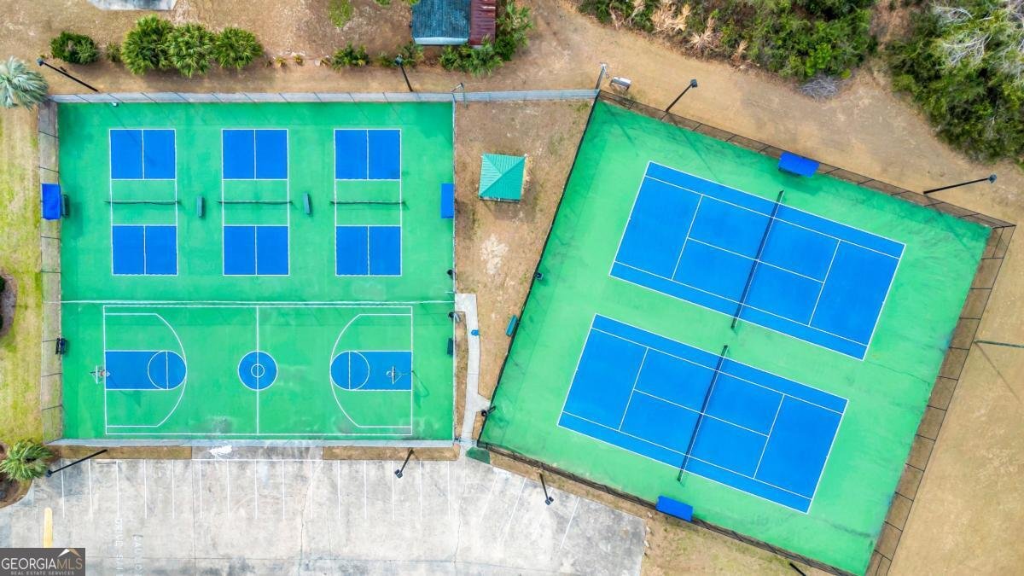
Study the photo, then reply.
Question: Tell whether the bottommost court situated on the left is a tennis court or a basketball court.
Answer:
basketball court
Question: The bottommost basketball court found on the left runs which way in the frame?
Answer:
from left to right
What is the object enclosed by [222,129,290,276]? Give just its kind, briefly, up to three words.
sports court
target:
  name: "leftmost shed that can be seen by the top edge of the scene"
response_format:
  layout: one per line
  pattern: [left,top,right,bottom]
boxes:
[412,0,496,49]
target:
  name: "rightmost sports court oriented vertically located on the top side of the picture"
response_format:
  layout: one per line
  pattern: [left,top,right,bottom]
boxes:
[335,129,402,276]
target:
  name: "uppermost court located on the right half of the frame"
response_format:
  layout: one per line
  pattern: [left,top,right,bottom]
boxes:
[609,160,907,361]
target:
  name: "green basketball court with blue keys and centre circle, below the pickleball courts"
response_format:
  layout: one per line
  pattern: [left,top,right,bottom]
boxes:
[103,306,412,435]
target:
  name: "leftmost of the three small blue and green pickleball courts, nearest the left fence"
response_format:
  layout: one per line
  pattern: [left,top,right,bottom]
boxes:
[110,129,177,275]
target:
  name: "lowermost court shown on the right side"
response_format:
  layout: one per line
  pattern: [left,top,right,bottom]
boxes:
[557,313,849,514]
